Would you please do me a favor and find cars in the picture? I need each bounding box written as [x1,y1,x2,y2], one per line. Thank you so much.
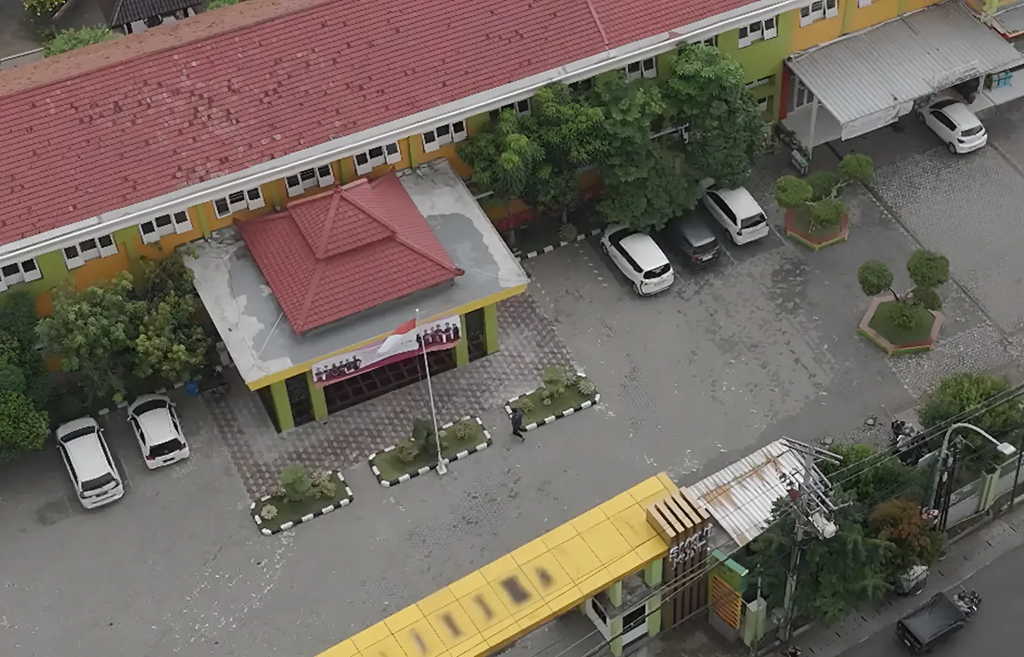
[126,398,191,472]
[54,419,124,510]
[648,199,722,270]
[601,222,676,297]
[695,174,770,246]
[911,93,988,155]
